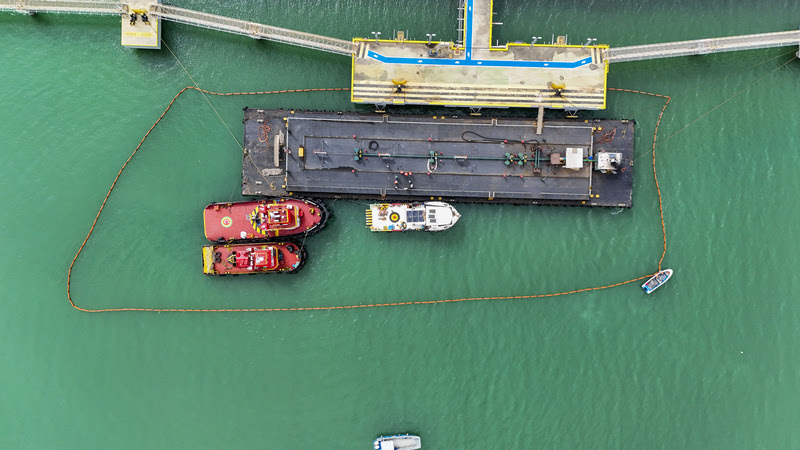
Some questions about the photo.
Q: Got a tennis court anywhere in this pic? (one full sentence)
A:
No, I can't see a single tennis court in this photo.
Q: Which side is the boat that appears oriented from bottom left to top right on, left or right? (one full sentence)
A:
The boat that appears oriented from bottom left to top right is on the right side of the image.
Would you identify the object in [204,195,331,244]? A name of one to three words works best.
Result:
boat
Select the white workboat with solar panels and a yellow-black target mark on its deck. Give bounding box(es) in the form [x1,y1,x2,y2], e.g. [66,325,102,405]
[366,203,461,232]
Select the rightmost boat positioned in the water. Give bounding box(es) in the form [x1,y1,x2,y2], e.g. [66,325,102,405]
[641,269,673,293]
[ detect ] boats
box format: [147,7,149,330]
[203,239,310,277]
[204,195,331,244]
[641,269,673,293]
[374,433,421,450]
[366,203,461,232]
